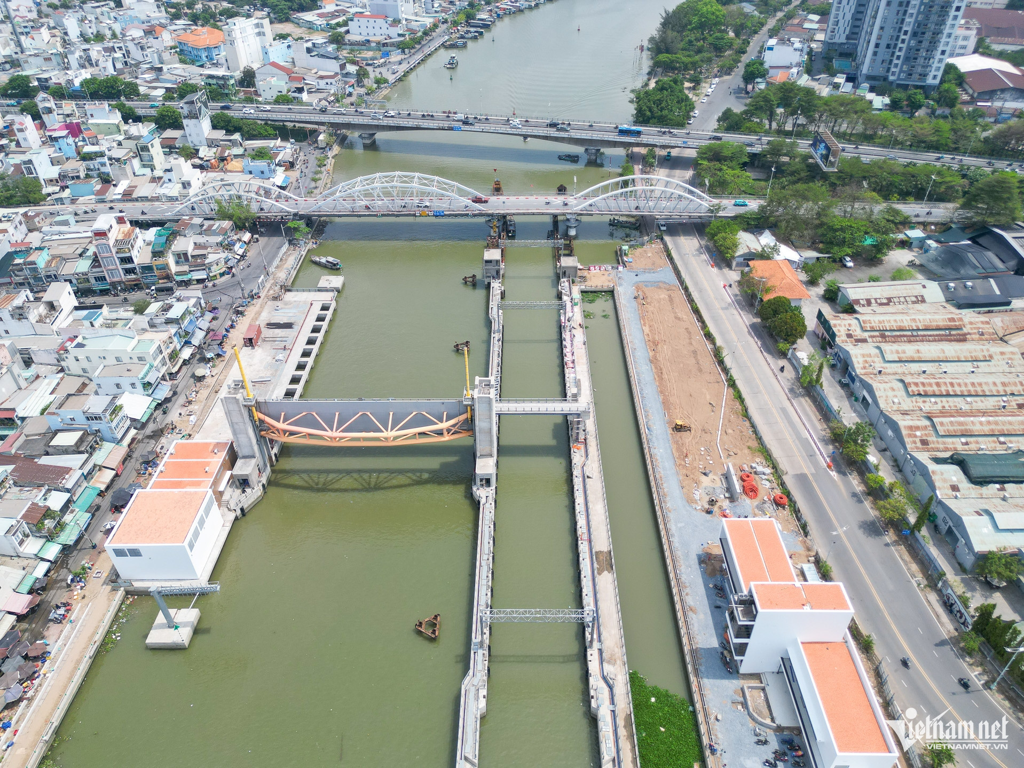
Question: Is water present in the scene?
Yes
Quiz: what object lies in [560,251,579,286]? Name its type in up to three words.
building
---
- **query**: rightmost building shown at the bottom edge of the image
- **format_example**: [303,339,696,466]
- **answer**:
[707,520,897,768]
